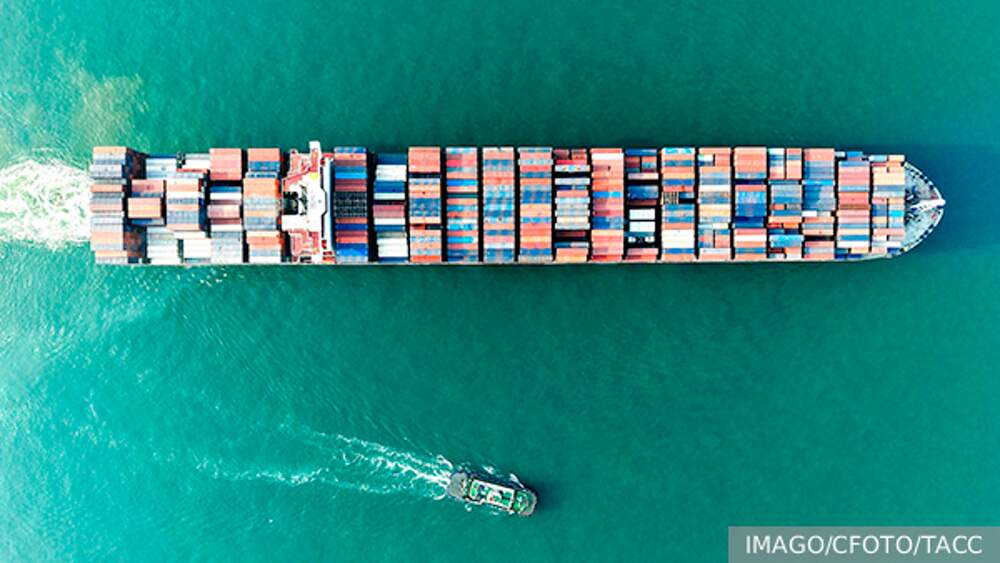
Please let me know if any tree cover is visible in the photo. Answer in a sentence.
No, there is no tree cover in the image.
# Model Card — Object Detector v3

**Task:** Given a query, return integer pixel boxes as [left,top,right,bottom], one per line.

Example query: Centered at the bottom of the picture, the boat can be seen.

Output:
[447,470,536,513]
